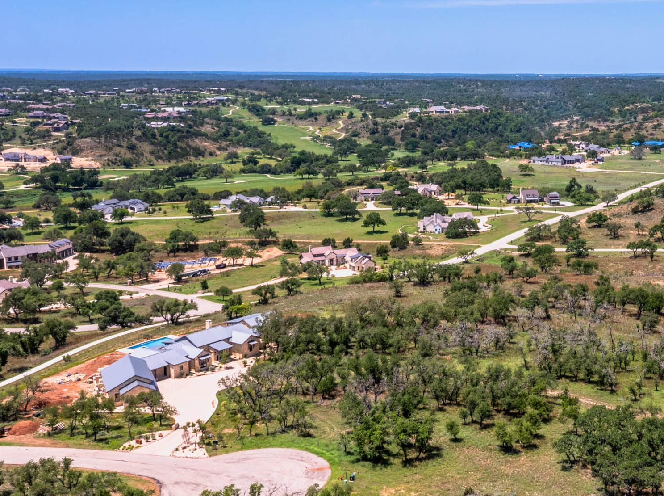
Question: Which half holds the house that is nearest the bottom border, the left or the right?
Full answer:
The house that is nearest the bottom border appears in the left half of the scene.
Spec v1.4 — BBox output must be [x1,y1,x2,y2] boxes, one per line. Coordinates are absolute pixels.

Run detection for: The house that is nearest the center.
[291,236,377,269]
